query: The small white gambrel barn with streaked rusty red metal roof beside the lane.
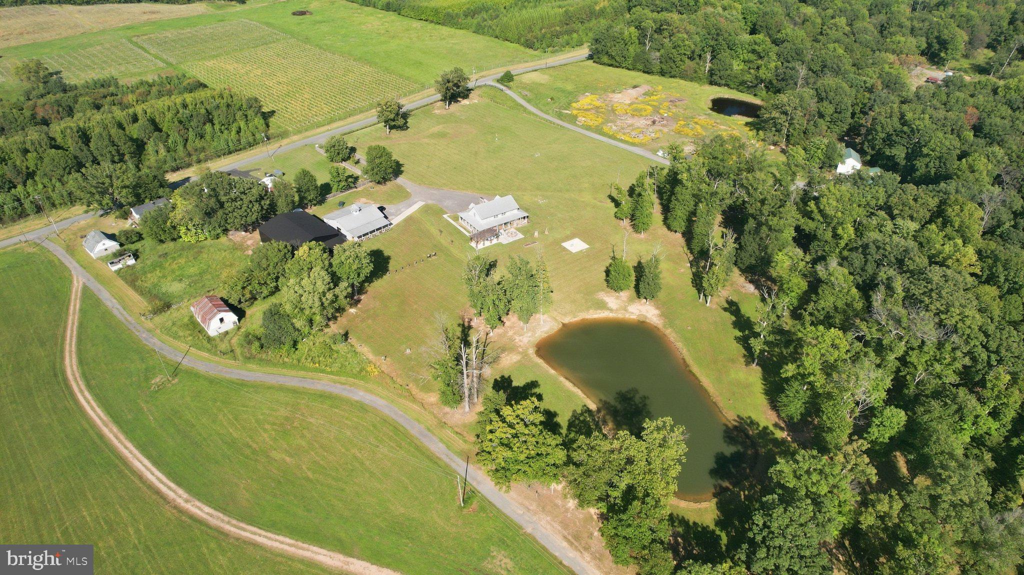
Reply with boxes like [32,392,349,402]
[190,287,239,335]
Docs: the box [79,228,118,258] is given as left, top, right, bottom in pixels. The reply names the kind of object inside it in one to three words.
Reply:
barn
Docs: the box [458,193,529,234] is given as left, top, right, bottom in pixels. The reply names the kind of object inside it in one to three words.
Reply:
house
